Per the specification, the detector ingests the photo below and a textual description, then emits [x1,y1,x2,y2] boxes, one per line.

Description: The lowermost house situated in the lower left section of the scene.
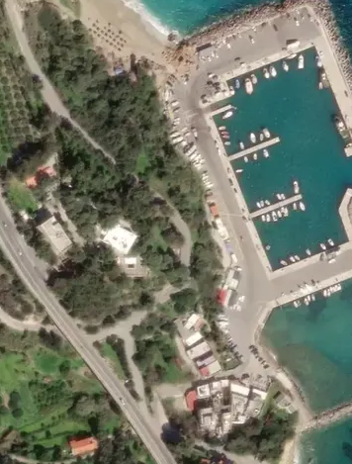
[68,438,98,458]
